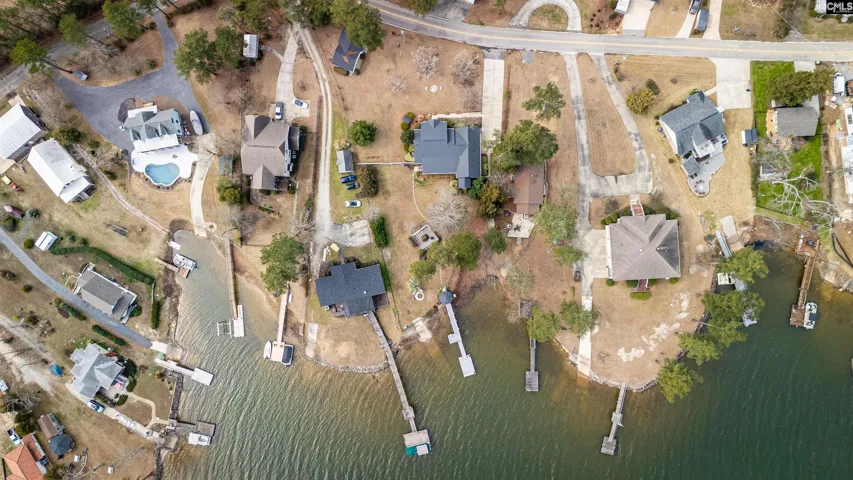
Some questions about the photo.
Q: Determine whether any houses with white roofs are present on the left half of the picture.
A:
Yes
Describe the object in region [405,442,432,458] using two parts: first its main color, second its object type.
white boat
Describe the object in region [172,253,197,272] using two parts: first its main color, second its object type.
white boat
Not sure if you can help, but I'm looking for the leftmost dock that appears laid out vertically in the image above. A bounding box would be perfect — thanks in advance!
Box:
[225,238,245,339]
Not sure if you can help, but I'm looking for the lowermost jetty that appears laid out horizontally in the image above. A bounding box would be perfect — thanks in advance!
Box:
[168,420,217,438]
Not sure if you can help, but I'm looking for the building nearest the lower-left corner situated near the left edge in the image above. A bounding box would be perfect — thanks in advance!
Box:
[2,432,53,480]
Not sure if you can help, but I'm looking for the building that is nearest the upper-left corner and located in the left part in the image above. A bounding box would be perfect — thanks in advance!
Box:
[0,97,48,177]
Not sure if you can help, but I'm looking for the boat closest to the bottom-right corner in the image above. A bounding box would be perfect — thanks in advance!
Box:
[803,303,818,330]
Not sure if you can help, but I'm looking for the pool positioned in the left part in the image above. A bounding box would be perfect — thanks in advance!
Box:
[143,162,181,186]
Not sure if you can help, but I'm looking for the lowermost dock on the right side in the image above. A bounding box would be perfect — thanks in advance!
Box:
[600,382,627,456]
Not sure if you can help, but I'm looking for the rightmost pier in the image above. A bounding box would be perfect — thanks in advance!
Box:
[789,238,819,326]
